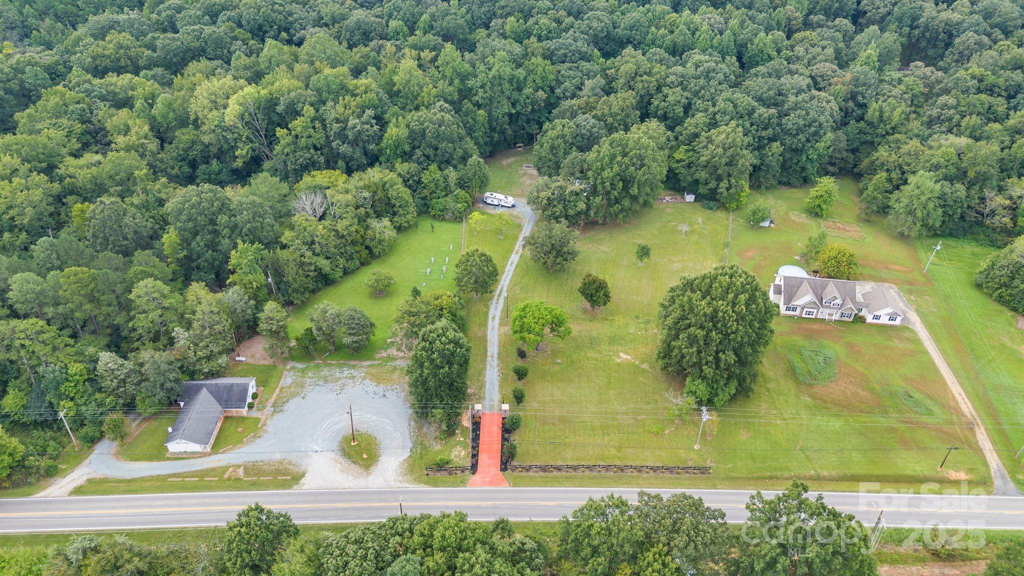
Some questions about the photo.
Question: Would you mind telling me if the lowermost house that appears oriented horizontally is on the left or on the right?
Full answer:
It is on the right.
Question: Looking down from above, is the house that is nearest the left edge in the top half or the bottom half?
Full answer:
The house that is nearest the left edge sits in the bottom half of the picture.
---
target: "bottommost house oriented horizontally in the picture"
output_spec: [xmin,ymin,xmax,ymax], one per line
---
[764,275,906,326]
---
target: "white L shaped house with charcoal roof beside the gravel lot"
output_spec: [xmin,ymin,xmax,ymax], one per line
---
[161,376,260,451]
